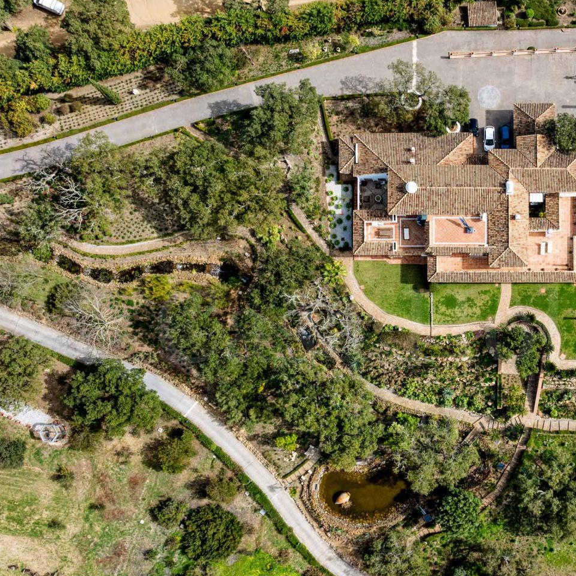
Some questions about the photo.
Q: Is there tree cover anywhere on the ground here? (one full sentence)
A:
Yes, the picture does contain tree cover.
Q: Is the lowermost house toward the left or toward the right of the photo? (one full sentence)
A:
It is on the right.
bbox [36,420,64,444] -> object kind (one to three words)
gazebo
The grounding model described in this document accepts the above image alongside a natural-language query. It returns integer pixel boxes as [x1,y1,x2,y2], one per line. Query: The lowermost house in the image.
[338,103,576,283]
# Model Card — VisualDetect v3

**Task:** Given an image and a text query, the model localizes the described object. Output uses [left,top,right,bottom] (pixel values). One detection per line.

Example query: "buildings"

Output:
[338,103,576,283]
[468,0,496,30]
